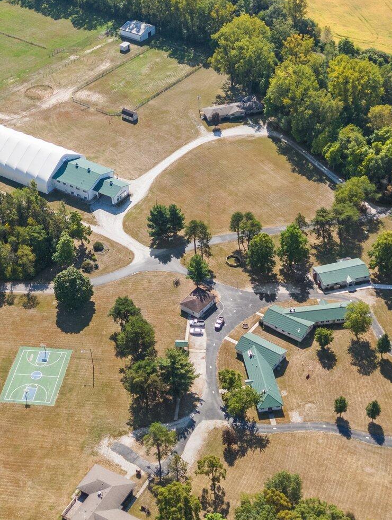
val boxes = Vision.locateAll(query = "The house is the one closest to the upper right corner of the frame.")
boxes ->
[202,102,262,122]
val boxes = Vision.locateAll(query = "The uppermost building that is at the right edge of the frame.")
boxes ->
[311,258,378,298]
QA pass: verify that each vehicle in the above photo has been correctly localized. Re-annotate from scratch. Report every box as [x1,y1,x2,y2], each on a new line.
[214,317,225,330]
[190,328,203,334]
[189,318,206,326]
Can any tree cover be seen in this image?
Yes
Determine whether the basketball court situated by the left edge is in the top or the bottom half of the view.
bottom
